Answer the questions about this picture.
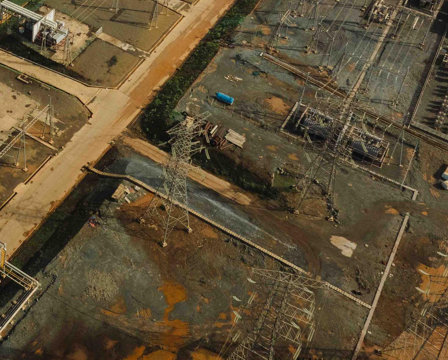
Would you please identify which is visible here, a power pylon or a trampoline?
power pylon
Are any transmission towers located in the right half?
Yes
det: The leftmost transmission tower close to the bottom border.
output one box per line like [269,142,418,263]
[220,260,336,360]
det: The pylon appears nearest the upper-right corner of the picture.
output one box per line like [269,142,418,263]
[290,95,380,218]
